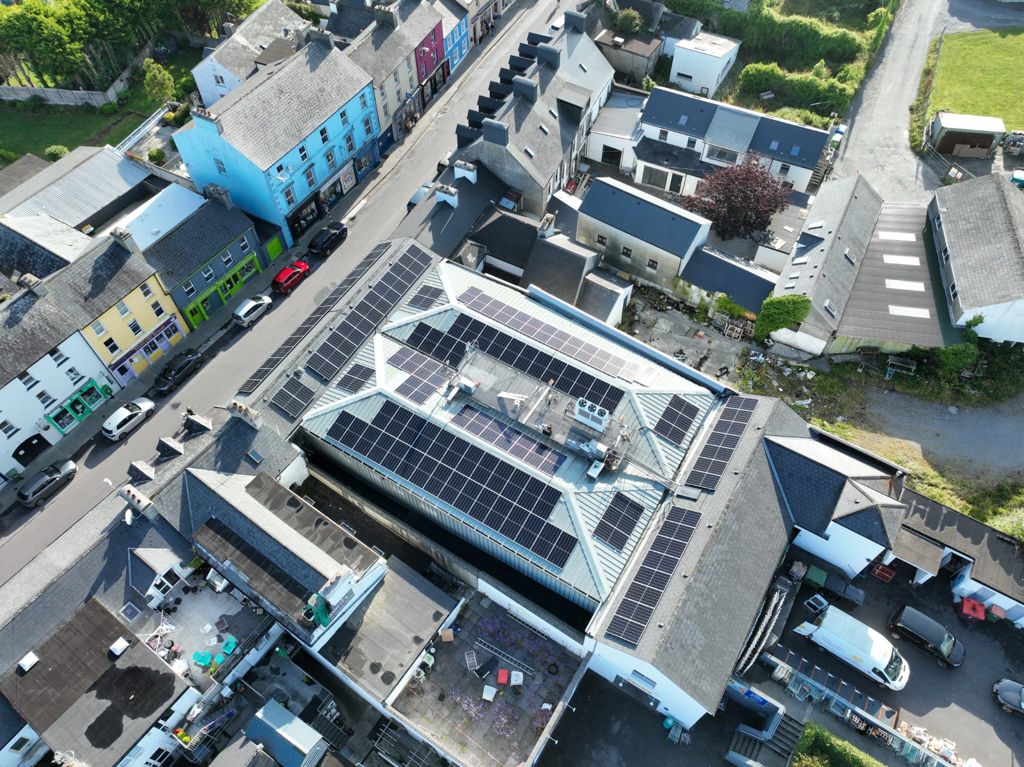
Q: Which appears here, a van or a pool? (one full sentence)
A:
This aerial view contains a van.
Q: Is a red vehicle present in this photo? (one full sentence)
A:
Yes, this view includes a red vehicle.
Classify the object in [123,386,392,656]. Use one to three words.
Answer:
house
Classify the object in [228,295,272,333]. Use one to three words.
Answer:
car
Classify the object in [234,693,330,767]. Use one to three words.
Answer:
shed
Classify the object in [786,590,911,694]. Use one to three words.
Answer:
van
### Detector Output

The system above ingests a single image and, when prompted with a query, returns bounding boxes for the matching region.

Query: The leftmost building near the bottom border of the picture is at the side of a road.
[0,488,214,767]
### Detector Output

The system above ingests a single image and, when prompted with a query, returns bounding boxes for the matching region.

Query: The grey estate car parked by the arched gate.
[10,458,81,515]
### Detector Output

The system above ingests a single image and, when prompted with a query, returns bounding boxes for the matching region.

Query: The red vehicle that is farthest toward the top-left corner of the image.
[268,262,312,299]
